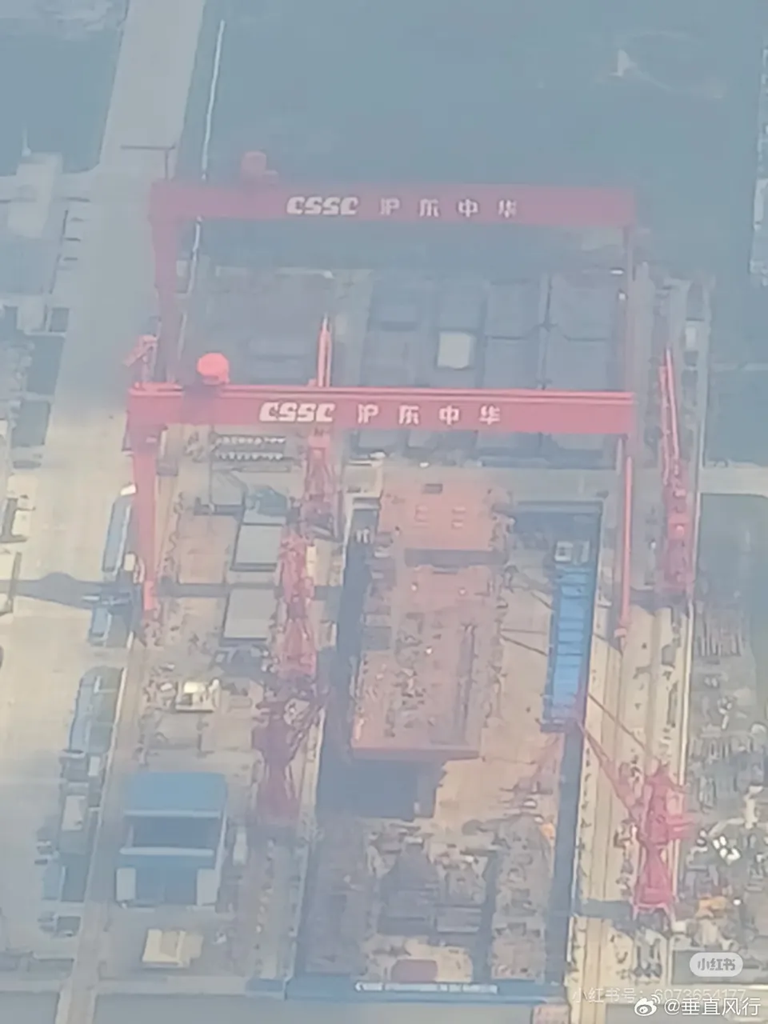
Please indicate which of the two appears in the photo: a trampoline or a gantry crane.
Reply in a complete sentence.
The one in the frame is a gantry crane.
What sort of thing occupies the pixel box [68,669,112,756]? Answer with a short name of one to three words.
shed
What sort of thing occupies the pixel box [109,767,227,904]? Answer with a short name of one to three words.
shed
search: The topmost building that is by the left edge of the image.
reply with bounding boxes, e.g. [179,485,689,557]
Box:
[6,86,66,239]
